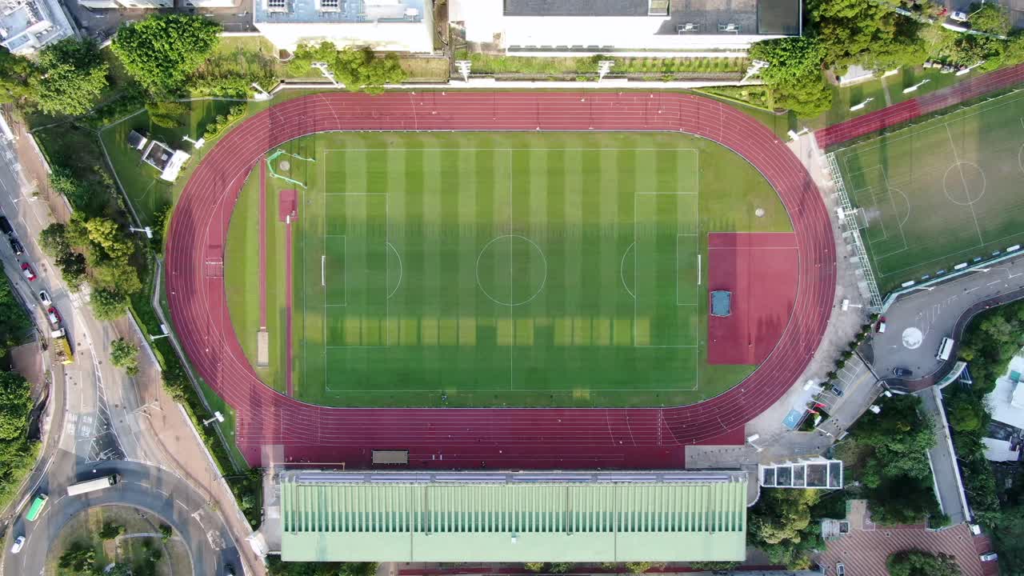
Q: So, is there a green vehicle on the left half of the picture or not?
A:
Yes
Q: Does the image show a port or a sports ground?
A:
sports ground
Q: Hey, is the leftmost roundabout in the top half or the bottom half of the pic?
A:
bottom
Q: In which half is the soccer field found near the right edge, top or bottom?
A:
top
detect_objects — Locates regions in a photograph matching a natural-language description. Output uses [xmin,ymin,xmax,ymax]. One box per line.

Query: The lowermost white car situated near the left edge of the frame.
[13,536,25,552]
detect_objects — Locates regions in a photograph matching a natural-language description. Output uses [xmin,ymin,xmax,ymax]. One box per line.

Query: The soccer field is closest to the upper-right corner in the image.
[825,87,1024,291]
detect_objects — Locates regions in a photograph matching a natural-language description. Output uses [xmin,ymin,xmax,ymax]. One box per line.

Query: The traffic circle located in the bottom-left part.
[1,461,239,576]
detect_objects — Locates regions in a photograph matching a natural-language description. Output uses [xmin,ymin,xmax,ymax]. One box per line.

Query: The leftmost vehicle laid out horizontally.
[66,475,119,495]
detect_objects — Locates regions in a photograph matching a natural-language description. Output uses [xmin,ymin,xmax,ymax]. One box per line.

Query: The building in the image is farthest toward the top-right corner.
[836,60,877,85]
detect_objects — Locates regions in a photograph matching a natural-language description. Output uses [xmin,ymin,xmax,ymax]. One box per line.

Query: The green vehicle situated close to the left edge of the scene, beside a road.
[27,492,49,521]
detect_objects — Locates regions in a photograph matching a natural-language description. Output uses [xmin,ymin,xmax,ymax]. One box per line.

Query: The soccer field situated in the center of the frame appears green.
[304,140,706,398]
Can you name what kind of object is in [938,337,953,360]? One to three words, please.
vehicle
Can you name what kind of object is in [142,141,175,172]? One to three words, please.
shed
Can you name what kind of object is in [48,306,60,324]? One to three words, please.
vehicle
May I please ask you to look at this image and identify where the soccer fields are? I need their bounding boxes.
[825,87,1024,291]
[304,140,706,398]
